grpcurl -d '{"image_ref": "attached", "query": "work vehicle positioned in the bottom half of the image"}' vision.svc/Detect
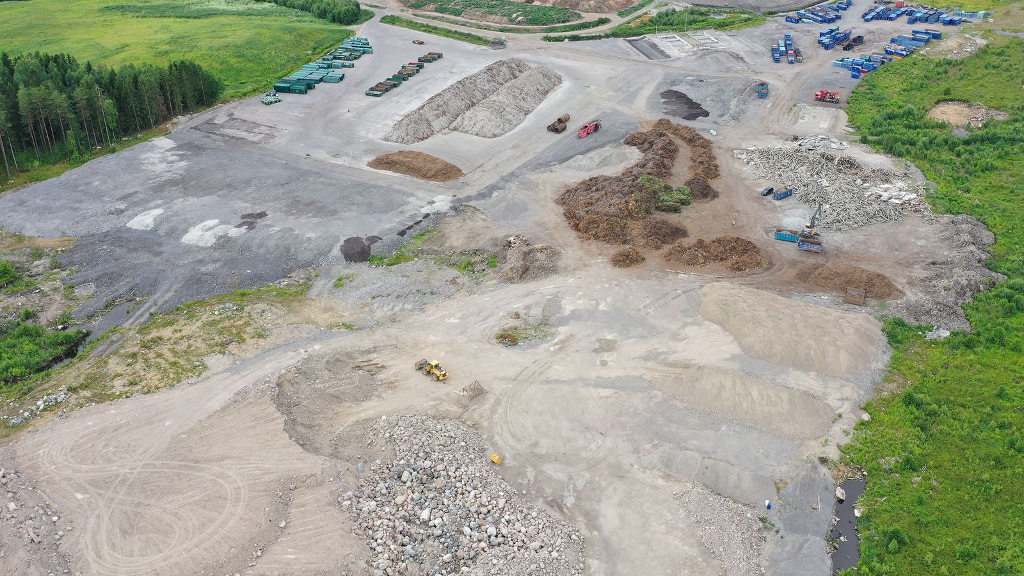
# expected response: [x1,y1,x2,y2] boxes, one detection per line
[415,359,451,383]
